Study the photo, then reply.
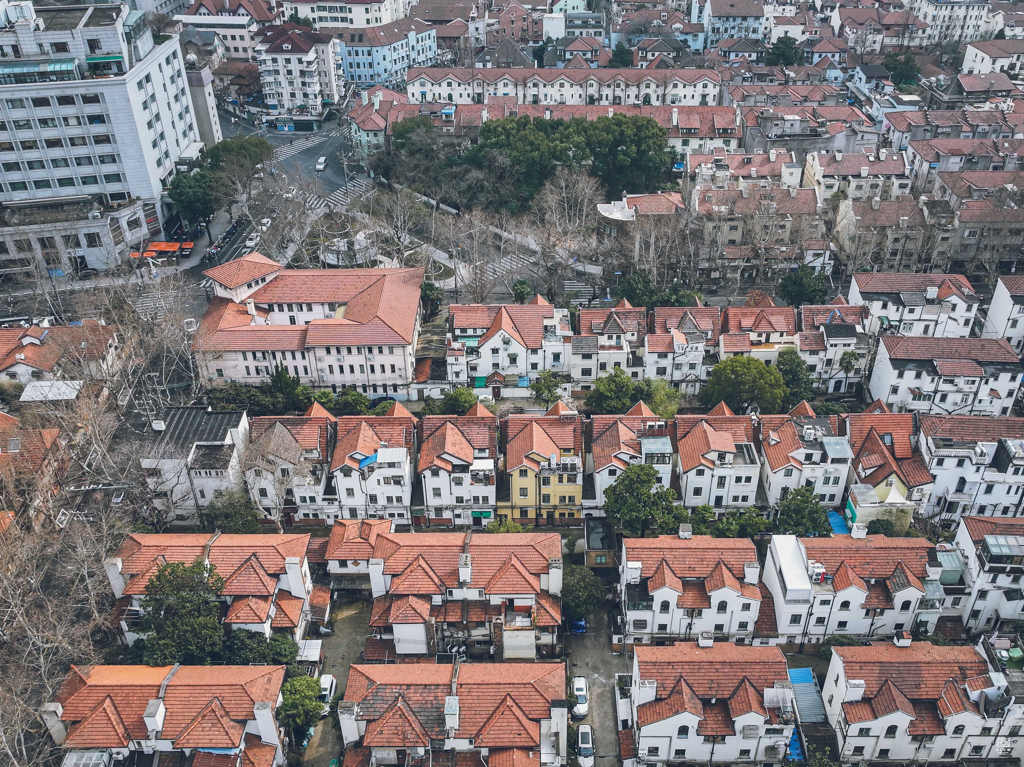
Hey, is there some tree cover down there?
Yes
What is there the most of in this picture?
buildings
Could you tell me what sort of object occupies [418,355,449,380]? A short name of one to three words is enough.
shed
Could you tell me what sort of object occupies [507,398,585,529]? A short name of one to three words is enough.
house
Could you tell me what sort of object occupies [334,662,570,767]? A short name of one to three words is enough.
house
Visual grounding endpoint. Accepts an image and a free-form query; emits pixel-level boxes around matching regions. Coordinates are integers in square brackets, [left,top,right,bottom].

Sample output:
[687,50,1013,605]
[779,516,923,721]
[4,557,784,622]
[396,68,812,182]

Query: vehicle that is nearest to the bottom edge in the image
[575,724,597,767]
